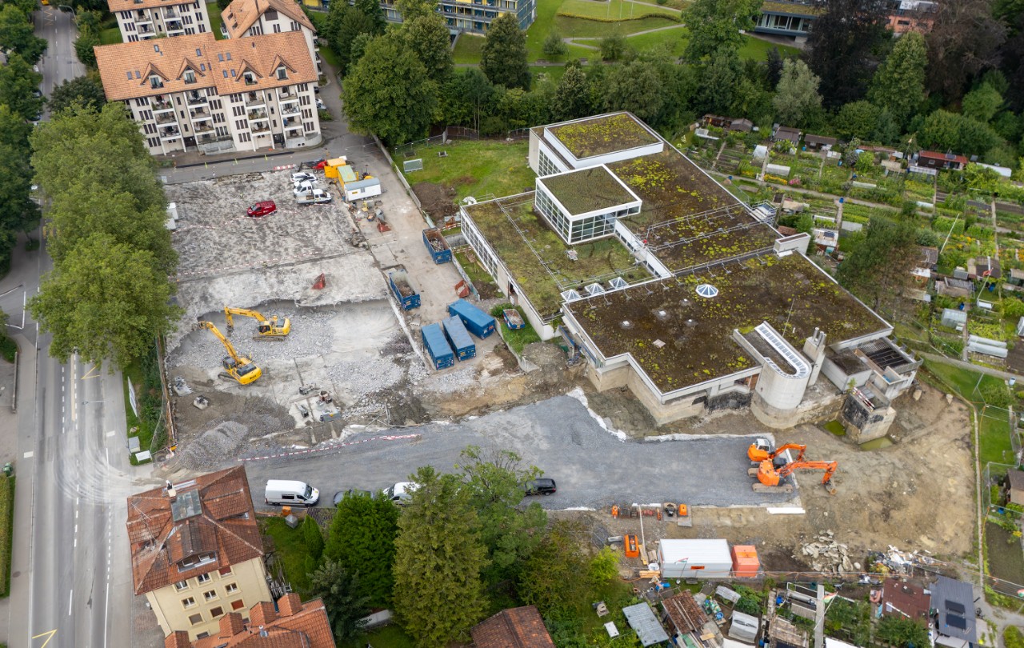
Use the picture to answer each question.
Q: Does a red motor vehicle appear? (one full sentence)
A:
Yes, there's a red motor vehicle here.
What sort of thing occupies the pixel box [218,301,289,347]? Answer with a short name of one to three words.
work vehicle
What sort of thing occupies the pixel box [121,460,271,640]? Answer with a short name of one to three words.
house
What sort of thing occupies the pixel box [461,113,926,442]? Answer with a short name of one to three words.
building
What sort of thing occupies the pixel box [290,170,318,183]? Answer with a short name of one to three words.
vehicle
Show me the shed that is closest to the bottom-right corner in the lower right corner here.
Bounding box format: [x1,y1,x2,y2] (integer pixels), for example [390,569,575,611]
[916,575,992,648]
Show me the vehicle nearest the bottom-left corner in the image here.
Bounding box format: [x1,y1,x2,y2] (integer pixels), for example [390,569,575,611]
[262,485,319,512]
